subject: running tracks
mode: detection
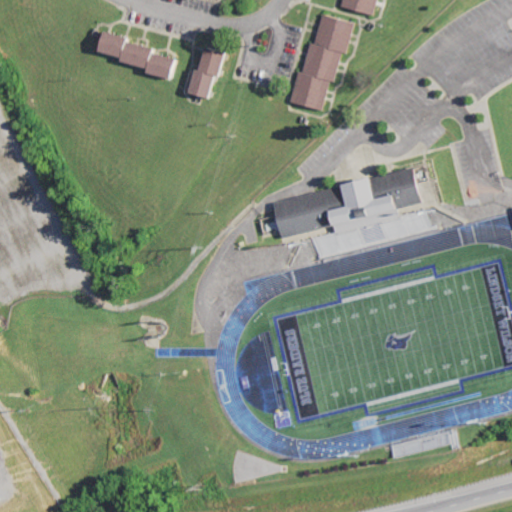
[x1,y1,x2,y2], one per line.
[216,222,512,460]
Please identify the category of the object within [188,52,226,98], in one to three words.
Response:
house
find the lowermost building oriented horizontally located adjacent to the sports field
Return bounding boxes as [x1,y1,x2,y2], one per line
[274,170,430,237]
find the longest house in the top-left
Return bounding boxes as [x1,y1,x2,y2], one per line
[97,32,177,80]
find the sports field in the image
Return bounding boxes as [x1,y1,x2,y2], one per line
[272,258,512,424]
